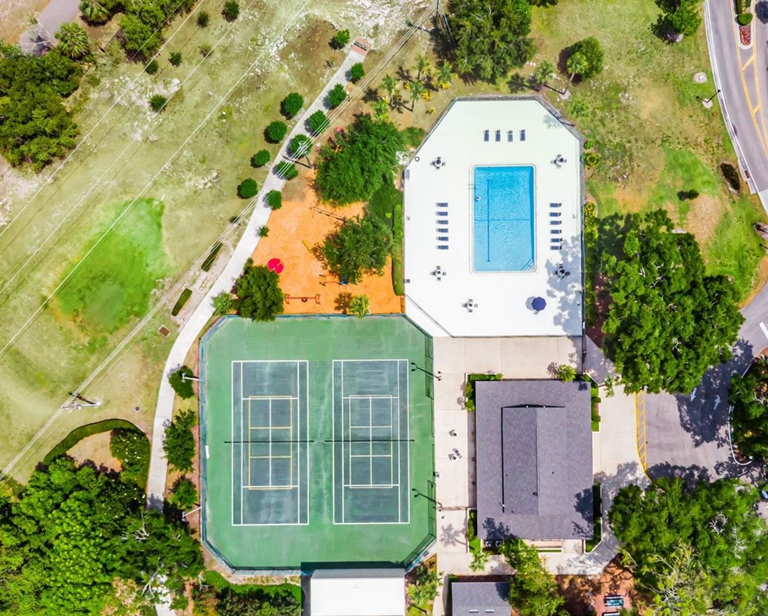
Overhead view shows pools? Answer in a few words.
Yes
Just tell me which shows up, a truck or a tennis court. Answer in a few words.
tennis court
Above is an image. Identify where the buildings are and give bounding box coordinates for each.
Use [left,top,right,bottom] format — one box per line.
[451,579,511,616]
[475,380,593,541]
[309,566,404,616]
